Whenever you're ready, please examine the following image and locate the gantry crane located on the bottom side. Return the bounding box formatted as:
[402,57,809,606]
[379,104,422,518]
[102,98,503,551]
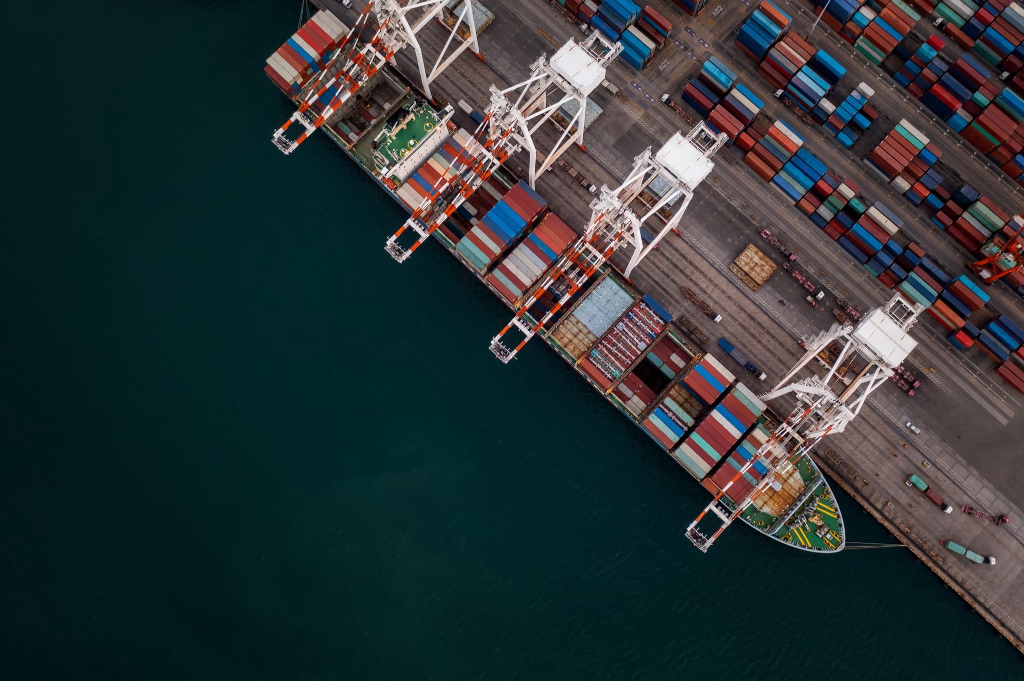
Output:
[683,288,935,556]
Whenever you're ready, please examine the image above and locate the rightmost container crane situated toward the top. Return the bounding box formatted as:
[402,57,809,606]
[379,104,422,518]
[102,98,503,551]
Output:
[973,242,1024,289]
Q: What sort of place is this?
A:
port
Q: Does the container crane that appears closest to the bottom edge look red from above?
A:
No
